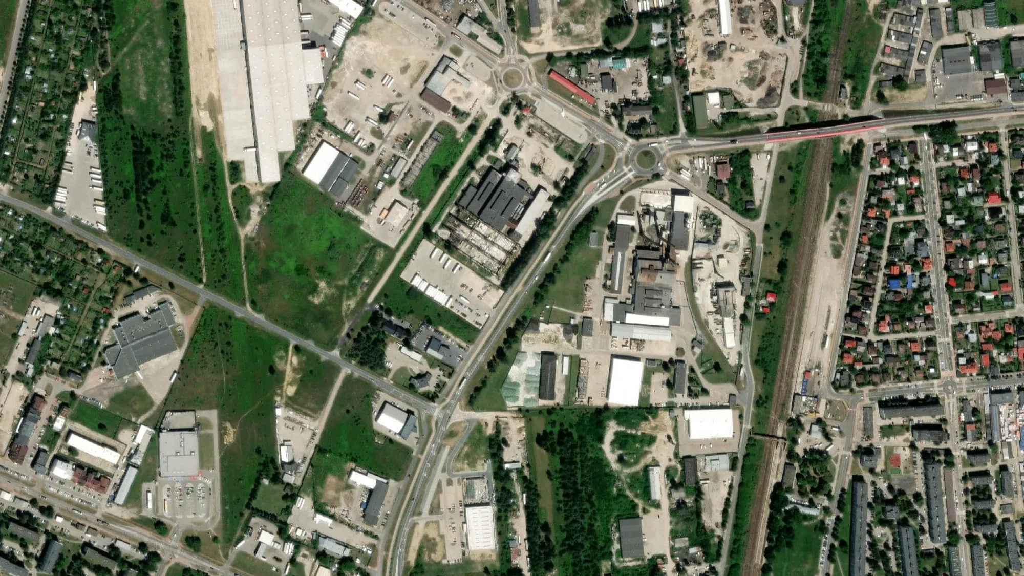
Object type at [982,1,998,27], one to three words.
greenhouse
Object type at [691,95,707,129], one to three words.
shed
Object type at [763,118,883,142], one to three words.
bridge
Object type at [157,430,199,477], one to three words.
building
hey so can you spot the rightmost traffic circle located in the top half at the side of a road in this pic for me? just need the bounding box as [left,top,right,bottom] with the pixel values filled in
[630,143,663,176]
